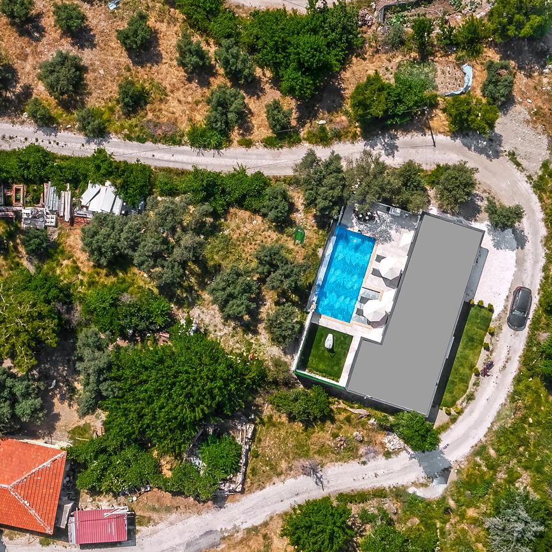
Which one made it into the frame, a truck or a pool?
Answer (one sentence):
The image shows a pool.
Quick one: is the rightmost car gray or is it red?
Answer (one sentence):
In this view, the rightmost car is gray.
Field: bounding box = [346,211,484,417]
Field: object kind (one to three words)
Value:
house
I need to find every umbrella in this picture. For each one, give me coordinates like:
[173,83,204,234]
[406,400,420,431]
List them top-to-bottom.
[399,229,416,249]
[379,256,402,279]
[364,299,386,322]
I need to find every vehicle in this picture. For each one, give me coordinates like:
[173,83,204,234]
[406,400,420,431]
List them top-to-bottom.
[506,286,532,330]
[482,360,497,377]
